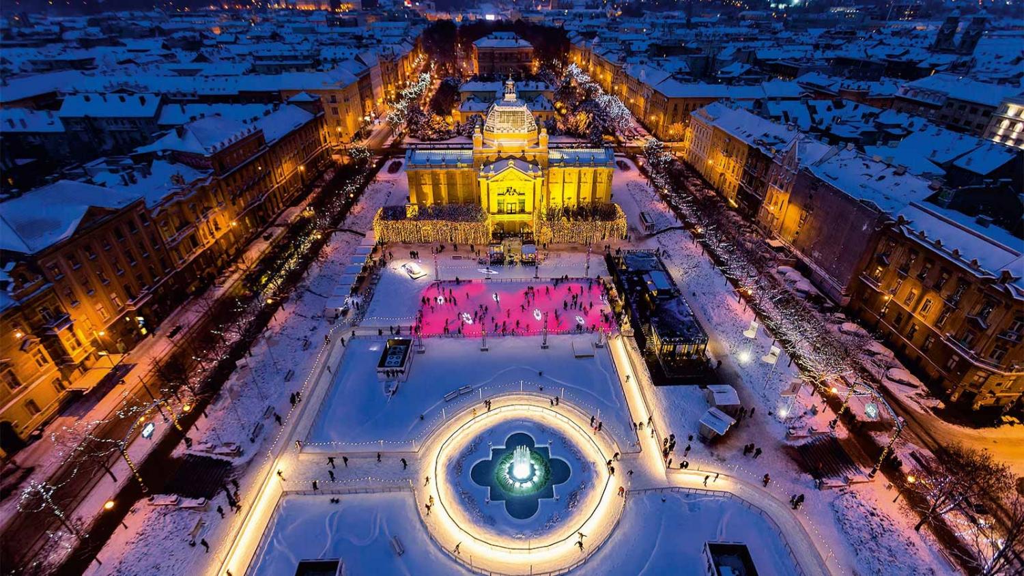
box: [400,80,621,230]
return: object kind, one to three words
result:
building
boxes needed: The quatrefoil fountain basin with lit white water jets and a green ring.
[470,430,574,518]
